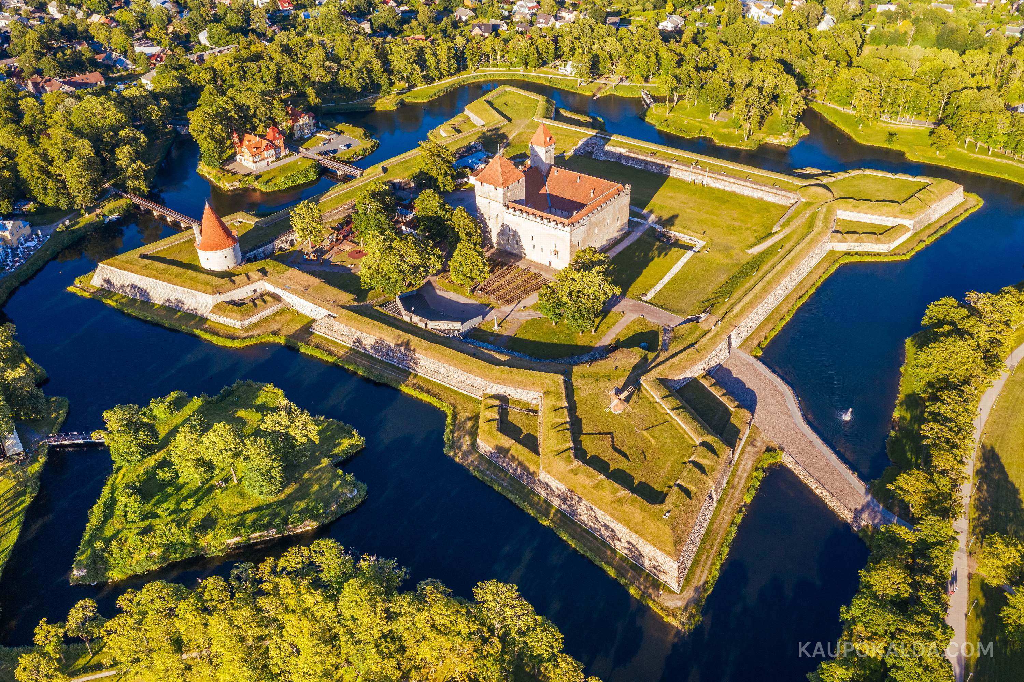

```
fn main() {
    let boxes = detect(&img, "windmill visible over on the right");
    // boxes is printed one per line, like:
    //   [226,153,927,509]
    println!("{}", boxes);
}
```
[607,382,638,415]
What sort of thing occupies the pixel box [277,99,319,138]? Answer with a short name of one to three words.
house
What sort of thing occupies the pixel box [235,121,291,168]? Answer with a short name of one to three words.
house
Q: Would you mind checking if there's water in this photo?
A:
Yes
